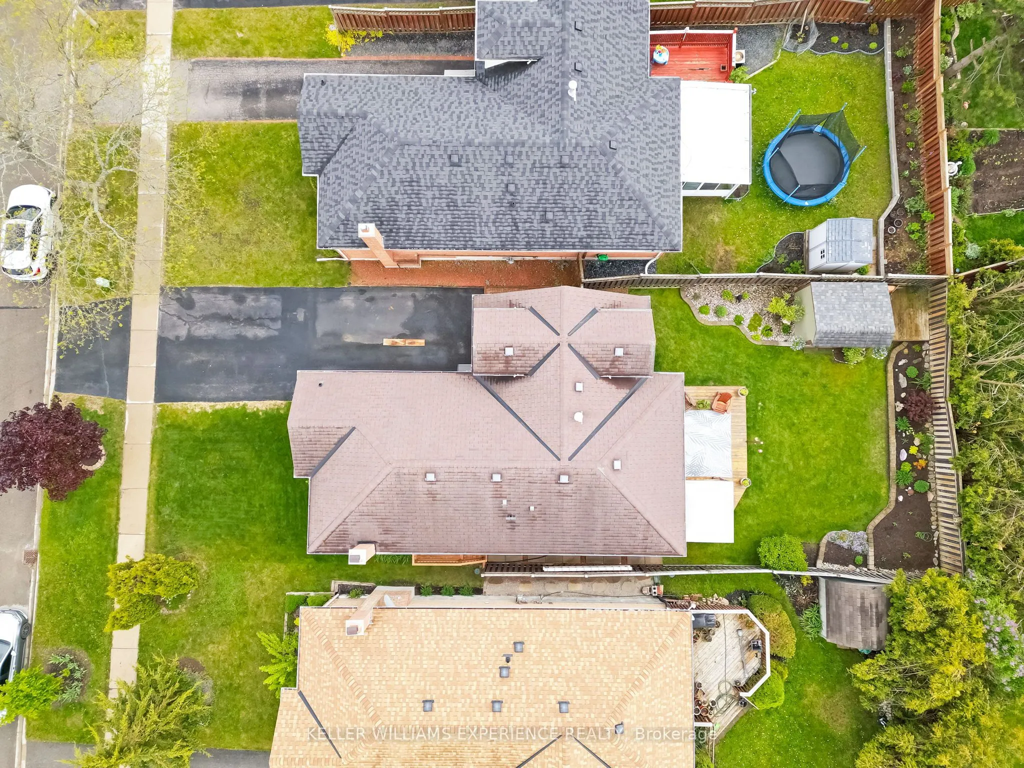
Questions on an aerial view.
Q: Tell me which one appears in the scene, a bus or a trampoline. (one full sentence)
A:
I can see a trampoline in this picture.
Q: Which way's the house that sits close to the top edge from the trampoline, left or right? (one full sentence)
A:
The trampoline has the house that sits close to the top edge on its left side.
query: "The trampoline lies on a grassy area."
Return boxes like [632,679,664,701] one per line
[757,103,867,211]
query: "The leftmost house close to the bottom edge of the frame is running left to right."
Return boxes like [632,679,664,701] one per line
[269,580,696,768]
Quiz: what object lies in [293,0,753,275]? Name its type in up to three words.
house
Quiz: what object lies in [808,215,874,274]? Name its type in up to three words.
shed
